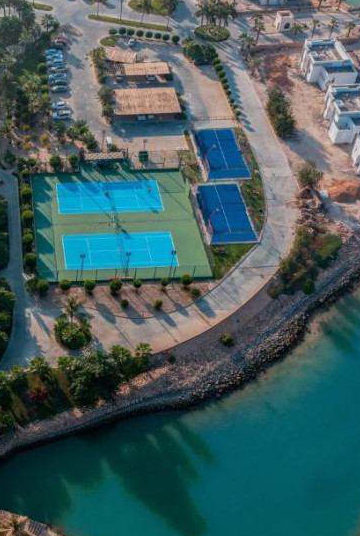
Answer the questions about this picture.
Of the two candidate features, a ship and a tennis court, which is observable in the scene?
tennis court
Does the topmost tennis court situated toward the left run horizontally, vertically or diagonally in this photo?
horizontally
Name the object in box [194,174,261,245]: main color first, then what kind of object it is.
blue sports court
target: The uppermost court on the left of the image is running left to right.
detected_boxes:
[56,179,164,214]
